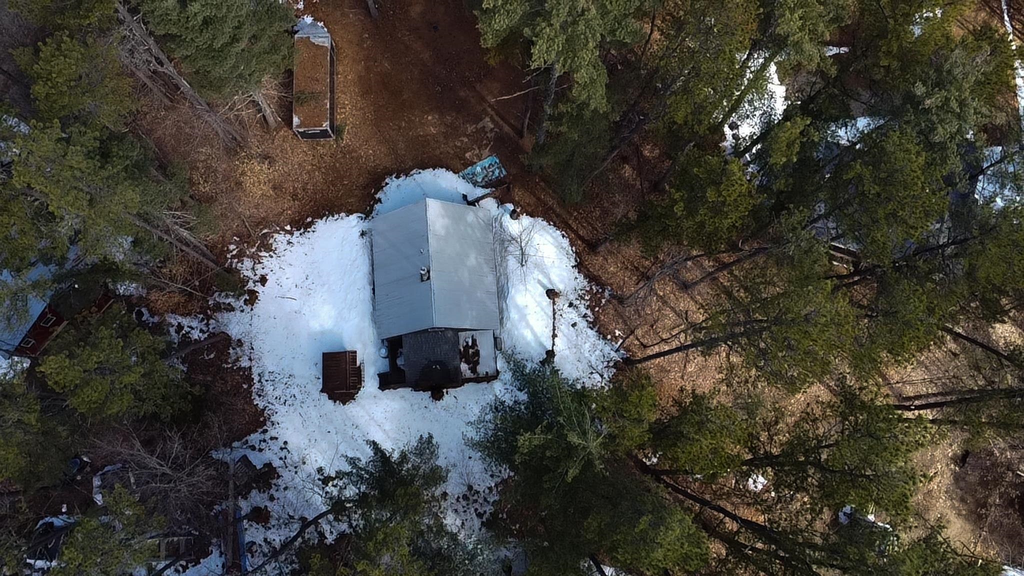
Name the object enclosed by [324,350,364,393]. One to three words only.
shed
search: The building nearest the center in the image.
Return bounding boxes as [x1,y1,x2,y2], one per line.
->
[372,199,502,394]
